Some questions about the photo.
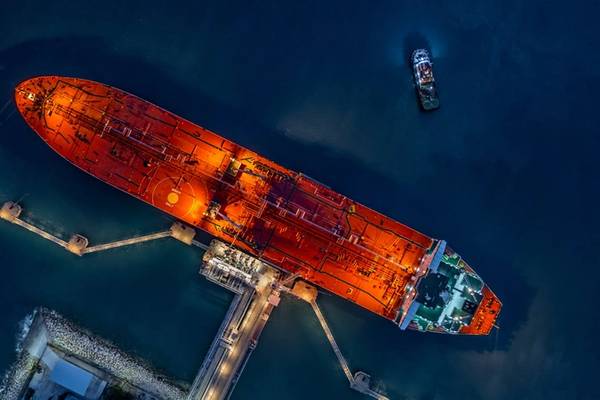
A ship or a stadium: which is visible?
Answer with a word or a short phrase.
ship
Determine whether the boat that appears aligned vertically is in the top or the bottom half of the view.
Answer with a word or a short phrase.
top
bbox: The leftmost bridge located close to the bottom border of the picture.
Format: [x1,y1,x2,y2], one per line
[188,281,273,400]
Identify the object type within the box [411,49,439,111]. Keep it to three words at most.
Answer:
boat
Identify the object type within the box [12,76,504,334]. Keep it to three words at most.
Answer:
ship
